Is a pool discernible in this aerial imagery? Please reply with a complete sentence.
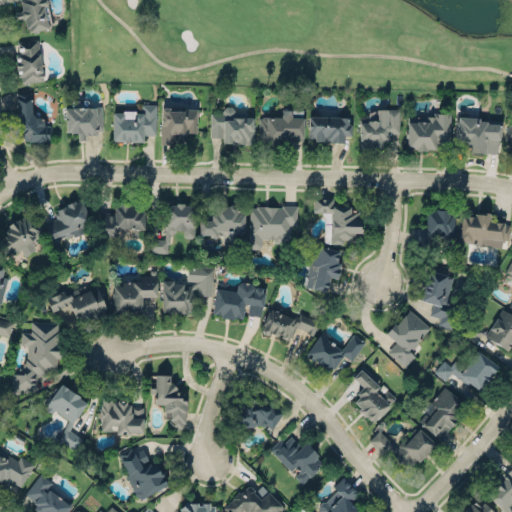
Yes, there is a pool in the image.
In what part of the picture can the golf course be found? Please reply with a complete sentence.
The golf course sits in the top section of the image.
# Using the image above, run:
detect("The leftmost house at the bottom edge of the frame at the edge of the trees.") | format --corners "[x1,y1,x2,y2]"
[0,452,36,488]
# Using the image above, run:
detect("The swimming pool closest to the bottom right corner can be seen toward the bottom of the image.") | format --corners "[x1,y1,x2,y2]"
[385,422,412,444]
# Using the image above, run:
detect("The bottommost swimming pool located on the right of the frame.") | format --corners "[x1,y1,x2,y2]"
[318,481,336,500]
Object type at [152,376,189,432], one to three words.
house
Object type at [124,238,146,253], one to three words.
swimming pool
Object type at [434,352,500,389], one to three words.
house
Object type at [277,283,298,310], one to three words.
swimming pool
